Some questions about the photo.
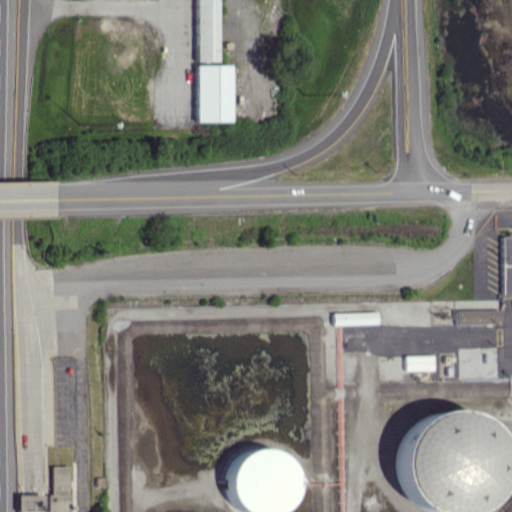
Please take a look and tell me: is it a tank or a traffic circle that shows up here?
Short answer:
tank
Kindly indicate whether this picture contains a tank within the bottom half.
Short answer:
Yes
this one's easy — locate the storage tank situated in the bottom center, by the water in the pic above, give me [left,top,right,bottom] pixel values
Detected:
[218,450,309,512]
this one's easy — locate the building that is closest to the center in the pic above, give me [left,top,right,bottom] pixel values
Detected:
[332,312,381,327]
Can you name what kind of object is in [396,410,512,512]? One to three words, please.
storage tank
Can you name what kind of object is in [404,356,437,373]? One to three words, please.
shed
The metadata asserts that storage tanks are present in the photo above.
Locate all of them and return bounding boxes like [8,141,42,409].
[218,450,309,512]
[396,410,512,512]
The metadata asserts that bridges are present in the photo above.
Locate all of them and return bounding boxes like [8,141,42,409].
[0,182,58,219]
